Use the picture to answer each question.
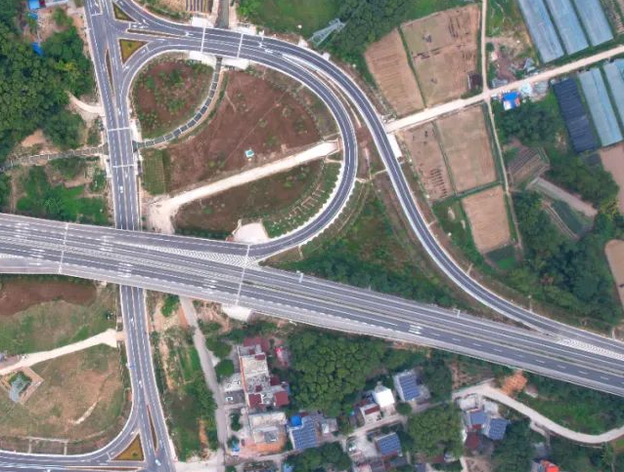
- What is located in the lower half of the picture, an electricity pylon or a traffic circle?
electricity pylon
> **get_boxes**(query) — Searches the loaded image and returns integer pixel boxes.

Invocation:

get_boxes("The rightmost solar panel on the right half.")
[490,419,506,438]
